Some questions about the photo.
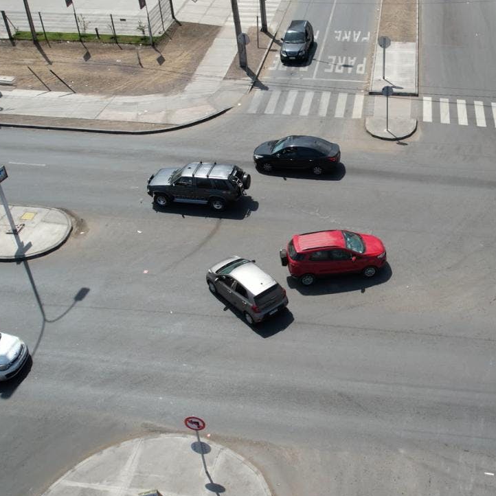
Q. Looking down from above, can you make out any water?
No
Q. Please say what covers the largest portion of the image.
paved ground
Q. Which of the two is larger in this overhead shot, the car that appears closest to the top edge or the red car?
the red car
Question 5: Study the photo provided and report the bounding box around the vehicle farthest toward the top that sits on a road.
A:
[280,21,316,58]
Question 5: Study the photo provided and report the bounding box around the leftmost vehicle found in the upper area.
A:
[138,157,247,213]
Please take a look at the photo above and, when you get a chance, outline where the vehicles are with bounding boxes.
[280,21,316,58]
[0,322,28,379]
[206,254,293,327]
[251,133,341,175]
[138,157,247,213]
[279,225,385,286]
